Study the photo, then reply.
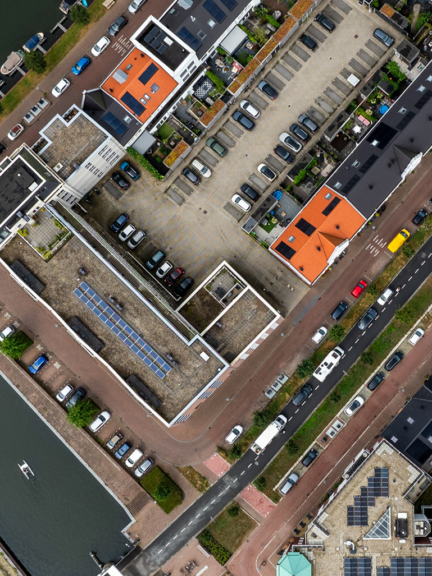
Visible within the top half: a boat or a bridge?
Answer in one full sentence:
You can see a boat within the top half.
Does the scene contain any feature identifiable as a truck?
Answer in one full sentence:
Yes, a truck is visible in the scene.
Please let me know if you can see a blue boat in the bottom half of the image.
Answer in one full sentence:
No, in the bottom half of the image there is no blue boat.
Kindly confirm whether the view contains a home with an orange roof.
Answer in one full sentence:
Yes, you can see a home with an orange roof in this photo.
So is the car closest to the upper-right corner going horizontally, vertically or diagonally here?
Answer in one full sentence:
The car closest to the upper-right corner has been laid out diagonally relative to the frame.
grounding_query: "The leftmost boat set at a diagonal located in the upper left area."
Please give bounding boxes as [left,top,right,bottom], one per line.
[0,47,25,75]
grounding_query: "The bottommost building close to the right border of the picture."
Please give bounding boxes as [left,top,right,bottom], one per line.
[278,437,432,576]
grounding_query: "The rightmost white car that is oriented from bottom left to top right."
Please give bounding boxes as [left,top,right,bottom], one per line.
[406,325,426,349]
